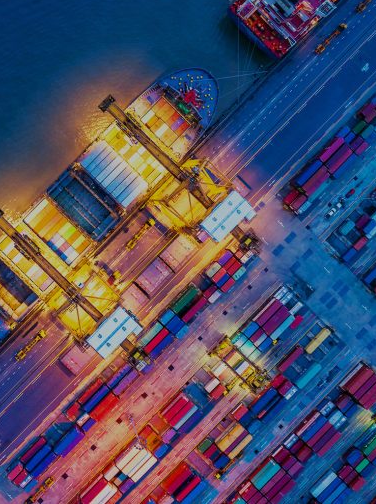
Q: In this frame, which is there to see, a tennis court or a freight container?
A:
freight container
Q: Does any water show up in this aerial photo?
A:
Yes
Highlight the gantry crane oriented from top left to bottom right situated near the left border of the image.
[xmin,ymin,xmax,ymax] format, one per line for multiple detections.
[0,208,150,361]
